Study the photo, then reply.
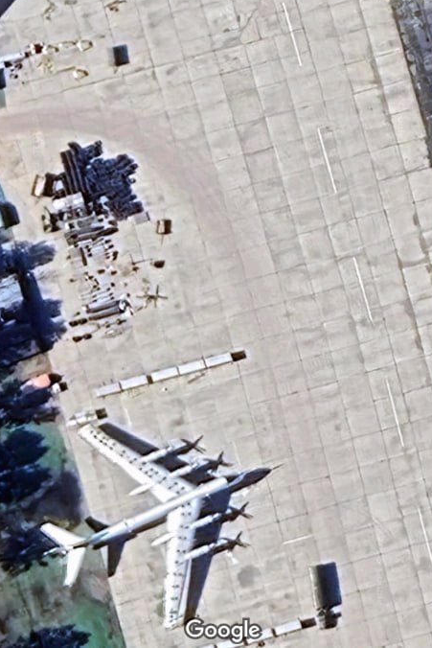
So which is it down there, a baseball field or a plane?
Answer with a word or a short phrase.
plane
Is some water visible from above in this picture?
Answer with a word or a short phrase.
No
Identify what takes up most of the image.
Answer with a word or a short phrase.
paved ground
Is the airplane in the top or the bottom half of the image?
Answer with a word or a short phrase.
bottom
